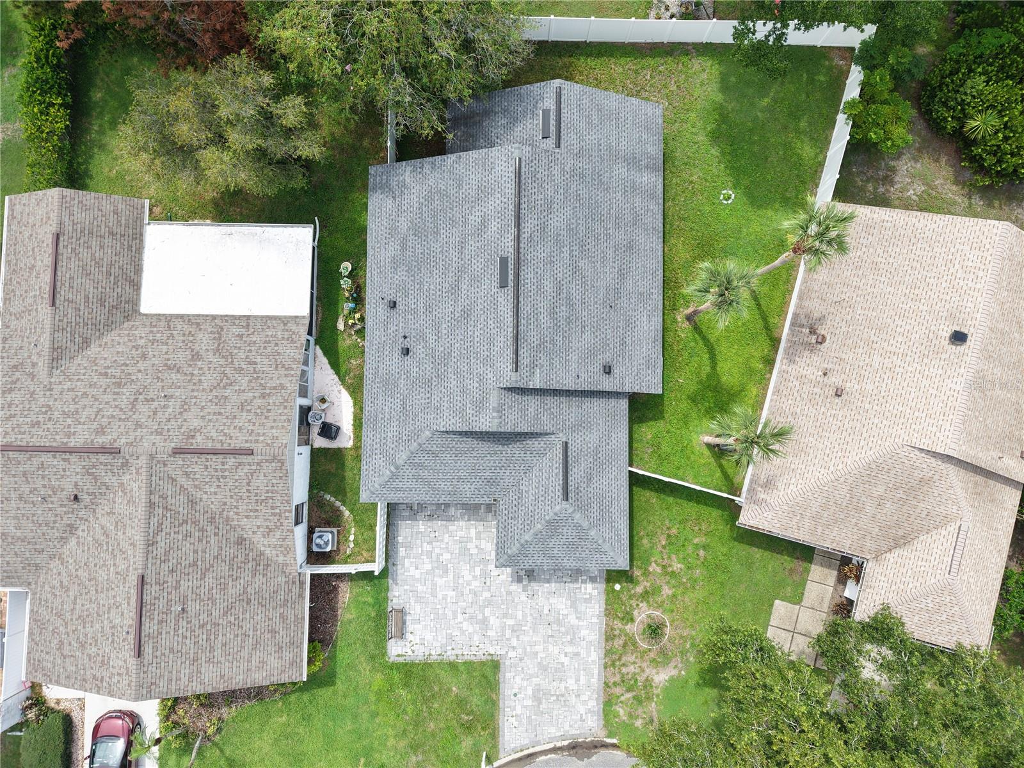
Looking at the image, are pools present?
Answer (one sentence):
No, there appears to be no pool in this shot.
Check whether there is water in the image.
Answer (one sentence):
No, the picture contains no water.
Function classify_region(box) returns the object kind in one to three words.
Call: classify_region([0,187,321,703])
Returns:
house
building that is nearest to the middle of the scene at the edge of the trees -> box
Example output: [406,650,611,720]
[360,79,663,570]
